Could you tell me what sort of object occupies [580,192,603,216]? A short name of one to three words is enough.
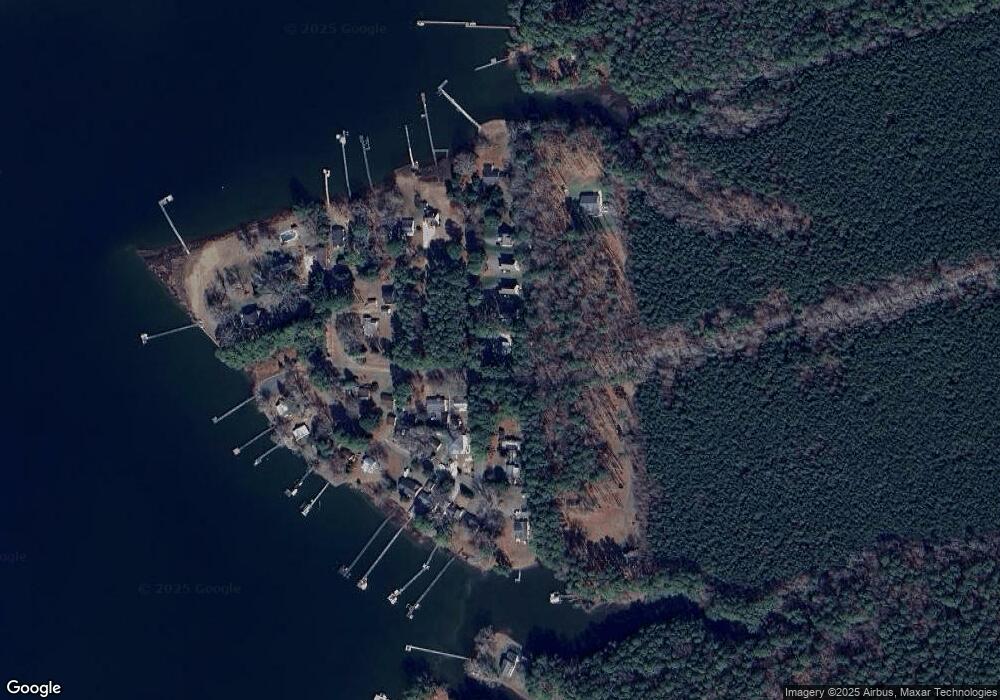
house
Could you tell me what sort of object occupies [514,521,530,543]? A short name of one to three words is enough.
house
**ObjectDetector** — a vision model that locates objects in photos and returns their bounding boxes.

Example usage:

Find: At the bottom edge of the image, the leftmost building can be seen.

[500,651,521,679]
